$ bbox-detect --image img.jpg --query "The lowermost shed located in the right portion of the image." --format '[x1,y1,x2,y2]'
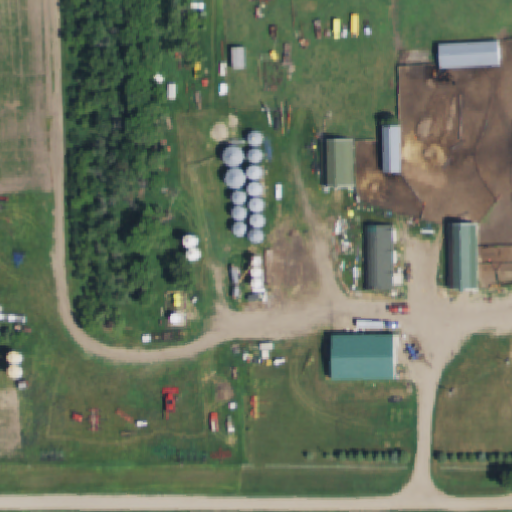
[330,333,395,380]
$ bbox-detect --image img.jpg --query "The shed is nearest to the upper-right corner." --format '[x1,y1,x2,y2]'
[438,40,500,70]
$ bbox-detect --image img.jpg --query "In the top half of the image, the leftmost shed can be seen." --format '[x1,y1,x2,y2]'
[232,46,245,70]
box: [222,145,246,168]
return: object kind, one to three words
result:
silo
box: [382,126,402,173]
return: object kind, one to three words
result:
shed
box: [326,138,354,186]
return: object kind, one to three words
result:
barn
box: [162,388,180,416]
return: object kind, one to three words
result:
work vehicle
